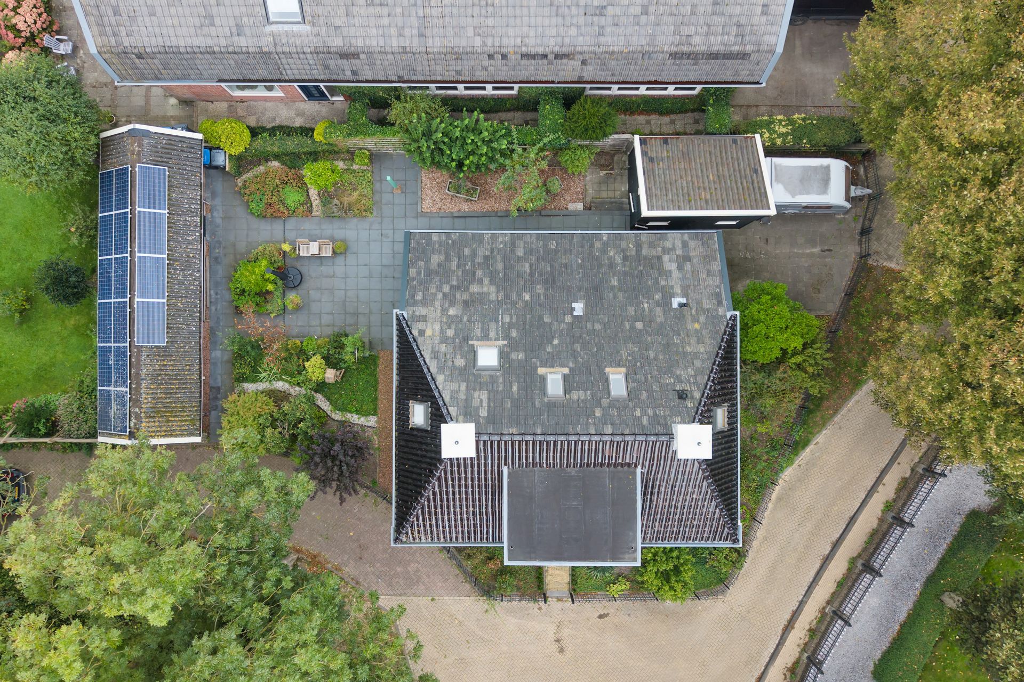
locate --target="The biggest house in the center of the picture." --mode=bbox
[392,227,742,566]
